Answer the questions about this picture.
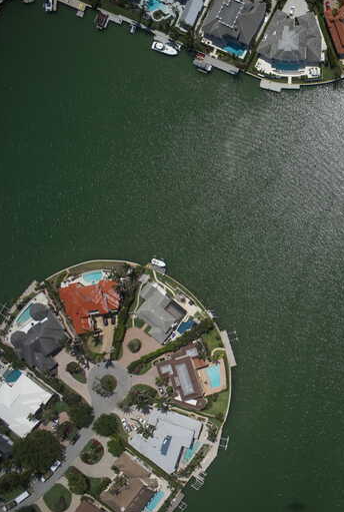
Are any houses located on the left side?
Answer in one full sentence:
Yes, on the left side there is a house.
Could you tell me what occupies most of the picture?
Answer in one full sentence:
What you mostly see from above here is water.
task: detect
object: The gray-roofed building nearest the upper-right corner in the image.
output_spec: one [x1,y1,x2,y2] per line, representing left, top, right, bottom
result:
[260,9,322,60]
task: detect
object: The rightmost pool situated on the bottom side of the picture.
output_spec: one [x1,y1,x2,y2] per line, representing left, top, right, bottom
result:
[204,363,221,389]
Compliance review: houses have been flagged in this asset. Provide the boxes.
[260,9,322,60]
[10,302,69,372]
[324,0,344,58]
[200,0,267,46]
[128,409,206,475]
[59,279,123,334]
[0,429,17,458]
[100,451,156,512]
[183,0,206,27]
[155,349,210,410]
[76,499,107,512]
[0,373,56,437]
[136,282,188,345]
